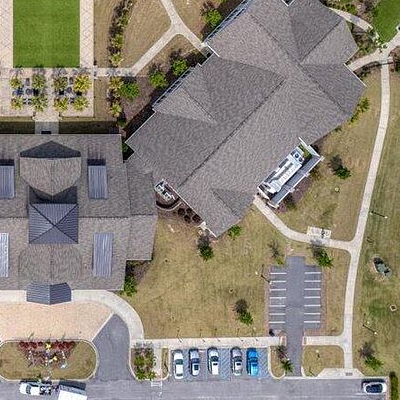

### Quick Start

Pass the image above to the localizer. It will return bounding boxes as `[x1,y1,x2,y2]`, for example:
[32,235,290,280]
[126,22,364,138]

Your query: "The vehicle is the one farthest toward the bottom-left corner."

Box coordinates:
[18,381,50,395]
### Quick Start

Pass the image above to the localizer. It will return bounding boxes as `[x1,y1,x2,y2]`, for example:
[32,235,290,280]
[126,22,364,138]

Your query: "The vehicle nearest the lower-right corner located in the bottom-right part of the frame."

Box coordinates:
[362,380,387,394]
